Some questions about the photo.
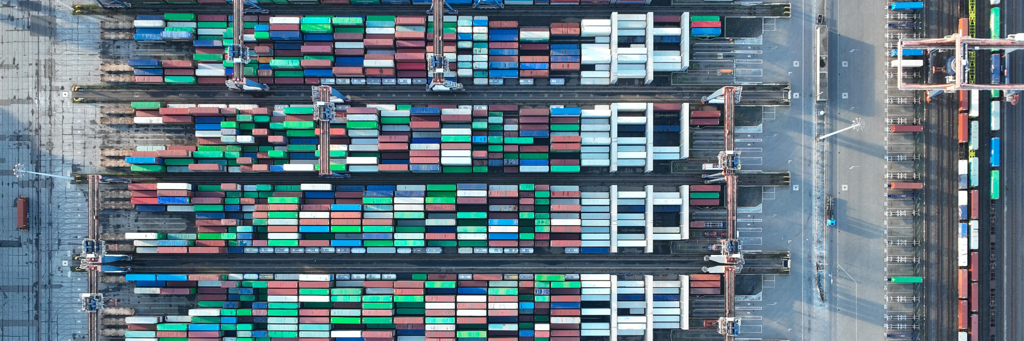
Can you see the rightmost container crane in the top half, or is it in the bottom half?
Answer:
top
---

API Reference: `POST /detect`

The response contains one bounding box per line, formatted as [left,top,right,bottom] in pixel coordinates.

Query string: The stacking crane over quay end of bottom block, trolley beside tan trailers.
[75,265,137,341]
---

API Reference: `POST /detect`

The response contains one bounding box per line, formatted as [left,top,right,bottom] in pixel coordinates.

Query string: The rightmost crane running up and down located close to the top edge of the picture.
[427,0,460,90]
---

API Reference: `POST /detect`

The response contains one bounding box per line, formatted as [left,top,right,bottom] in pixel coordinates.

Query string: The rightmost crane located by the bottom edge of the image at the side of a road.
[701,265,745,341]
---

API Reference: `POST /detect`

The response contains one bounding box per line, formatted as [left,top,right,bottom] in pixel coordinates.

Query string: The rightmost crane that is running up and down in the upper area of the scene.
[700,84,743,179]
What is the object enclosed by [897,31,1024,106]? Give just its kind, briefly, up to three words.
container crane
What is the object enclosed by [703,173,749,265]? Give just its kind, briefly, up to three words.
crane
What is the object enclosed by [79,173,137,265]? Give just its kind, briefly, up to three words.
crane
